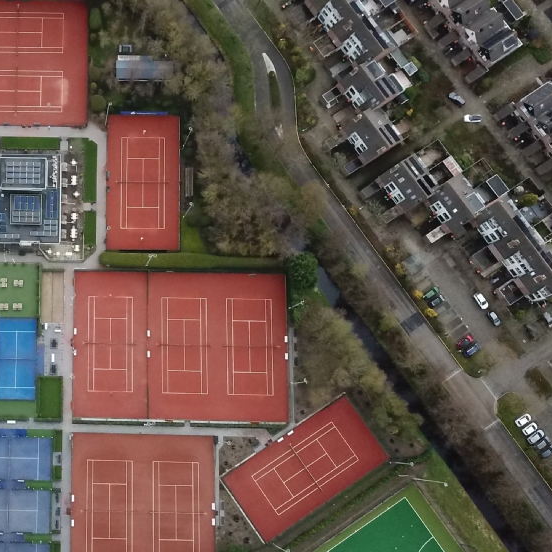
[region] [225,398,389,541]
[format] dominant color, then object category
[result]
red tennis court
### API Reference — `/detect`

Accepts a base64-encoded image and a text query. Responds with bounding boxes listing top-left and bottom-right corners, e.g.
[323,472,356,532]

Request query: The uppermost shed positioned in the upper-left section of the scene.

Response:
[116,55,172,84]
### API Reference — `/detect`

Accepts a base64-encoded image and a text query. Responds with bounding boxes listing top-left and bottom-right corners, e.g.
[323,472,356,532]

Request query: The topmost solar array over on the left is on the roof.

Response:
[5,163,40,183]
